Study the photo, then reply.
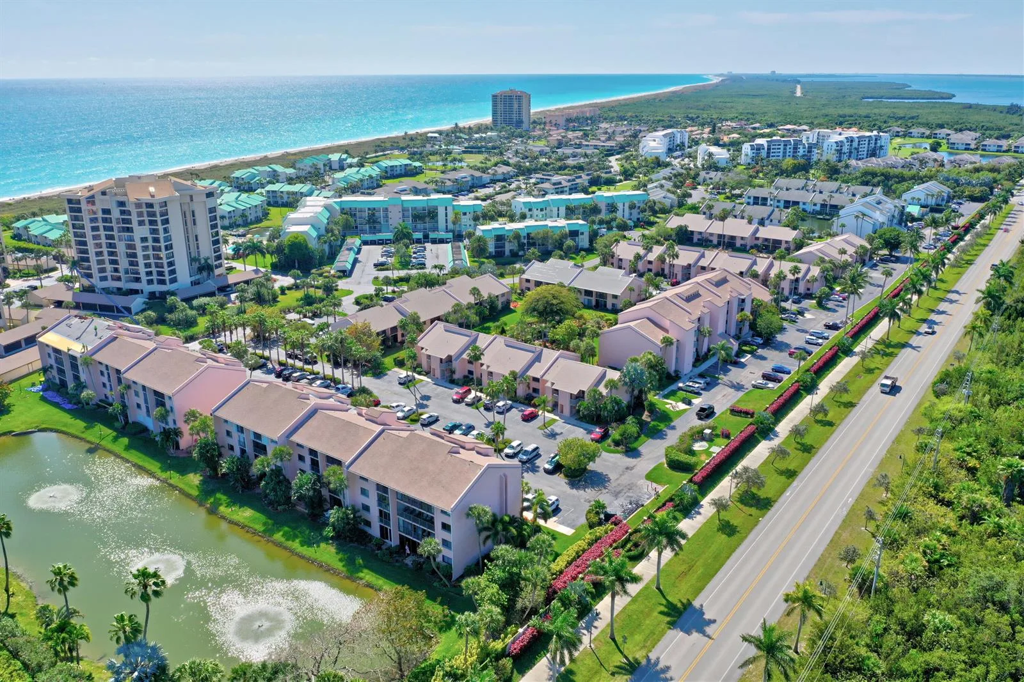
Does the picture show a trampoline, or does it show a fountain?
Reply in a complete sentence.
The image shows a fountain.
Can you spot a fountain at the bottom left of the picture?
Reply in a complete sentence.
Yes, you'll find a fountain at the bottom left of the picture.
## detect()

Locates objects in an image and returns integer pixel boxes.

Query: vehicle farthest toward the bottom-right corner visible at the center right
[883,375,901,391]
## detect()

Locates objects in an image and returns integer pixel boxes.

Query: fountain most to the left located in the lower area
[27,488,88,516]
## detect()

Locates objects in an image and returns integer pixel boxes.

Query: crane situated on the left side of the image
[75,264,152,328]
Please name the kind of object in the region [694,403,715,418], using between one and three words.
vehicle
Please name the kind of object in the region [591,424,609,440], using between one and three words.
car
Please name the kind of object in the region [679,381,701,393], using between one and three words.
vehicle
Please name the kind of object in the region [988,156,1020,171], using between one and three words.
house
